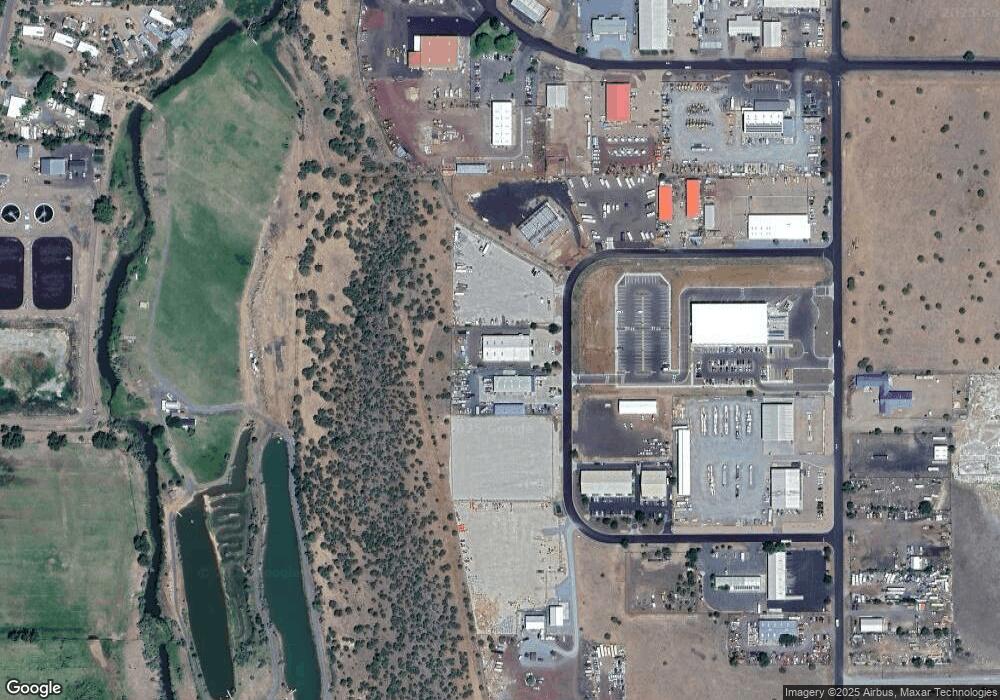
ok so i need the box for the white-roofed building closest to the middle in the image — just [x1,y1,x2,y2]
[482,335,529,360]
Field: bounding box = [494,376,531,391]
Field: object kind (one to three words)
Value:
building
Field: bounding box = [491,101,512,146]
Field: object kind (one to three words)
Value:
building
